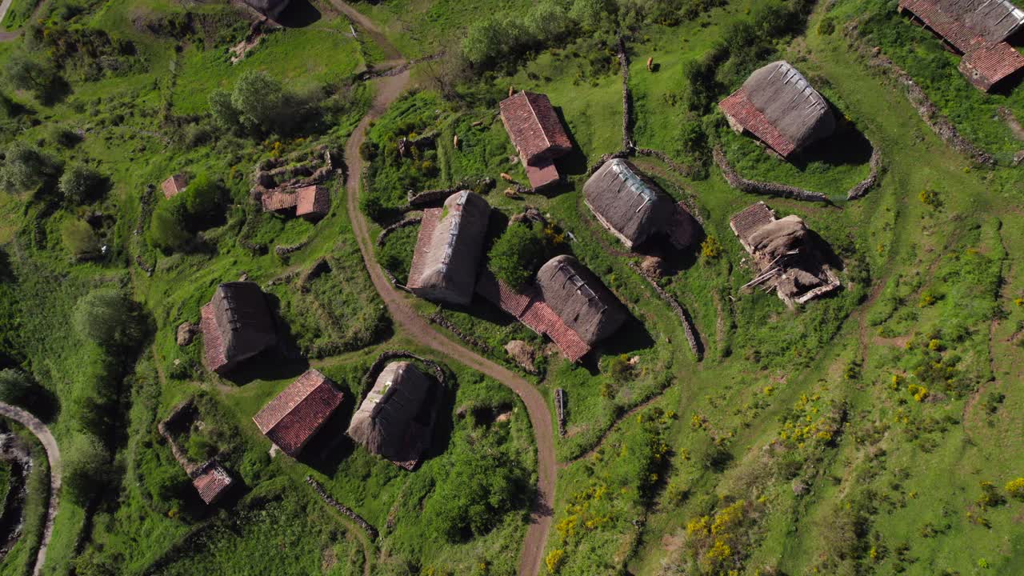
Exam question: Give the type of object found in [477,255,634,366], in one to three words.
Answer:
barn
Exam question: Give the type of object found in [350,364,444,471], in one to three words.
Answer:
barn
